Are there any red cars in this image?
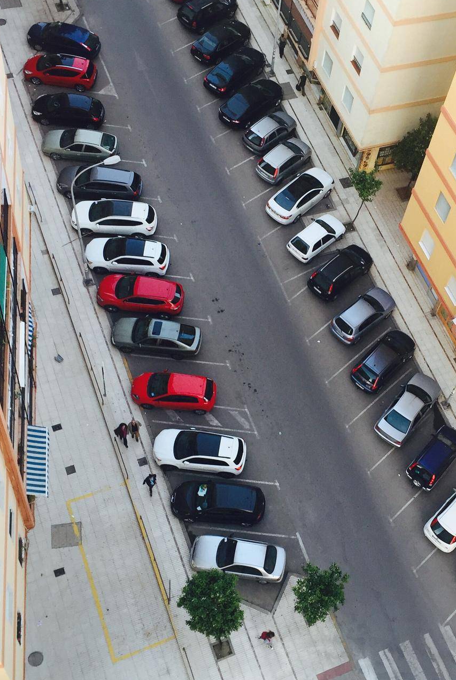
Yes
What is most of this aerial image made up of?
paved ground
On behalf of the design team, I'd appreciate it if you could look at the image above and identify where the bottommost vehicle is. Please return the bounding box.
[190,536,289,588]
